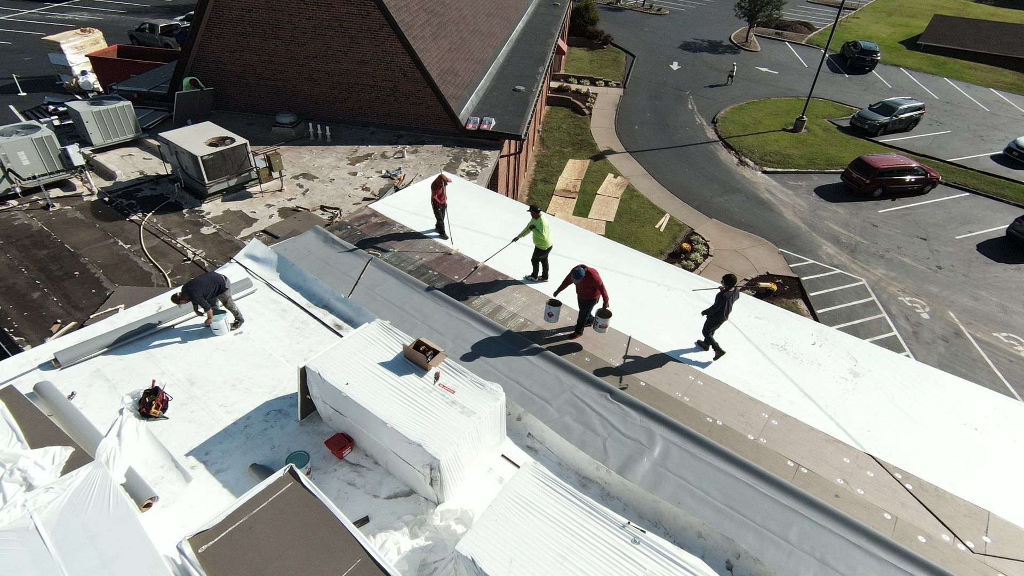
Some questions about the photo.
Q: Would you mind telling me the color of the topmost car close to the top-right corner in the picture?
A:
black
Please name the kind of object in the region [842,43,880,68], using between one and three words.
car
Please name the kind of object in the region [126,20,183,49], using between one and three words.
truck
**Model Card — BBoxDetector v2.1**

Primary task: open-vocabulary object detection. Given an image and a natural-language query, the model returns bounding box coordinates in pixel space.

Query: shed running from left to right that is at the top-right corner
[915,14,1024,72]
